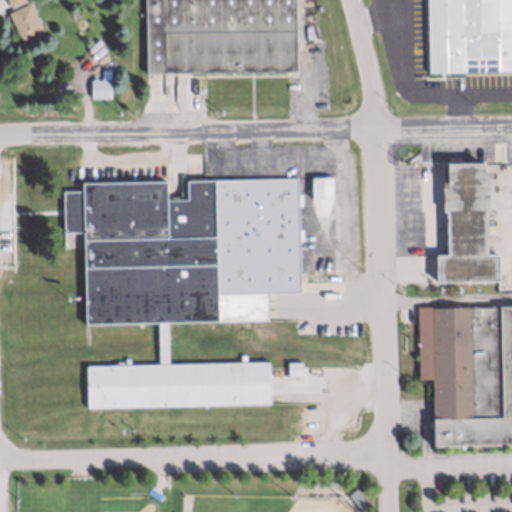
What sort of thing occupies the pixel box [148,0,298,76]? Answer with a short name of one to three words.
building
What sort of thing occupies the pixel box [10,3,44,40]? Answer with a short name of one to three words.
house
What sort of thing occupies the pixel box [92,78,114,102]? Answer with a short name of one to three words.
building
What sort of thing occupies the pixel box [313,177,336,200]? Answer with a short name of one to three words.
shed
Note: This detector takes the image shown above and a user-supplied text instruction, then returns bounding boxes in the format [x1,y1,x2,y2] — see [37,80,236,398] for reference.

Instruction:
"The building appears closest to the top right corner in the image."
[426,0,512,81]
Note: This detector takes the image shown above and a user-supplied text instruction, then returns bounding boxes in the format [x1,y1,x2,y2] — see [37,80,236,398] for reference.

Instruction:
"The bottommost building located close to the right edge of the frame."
[419,306,512,446]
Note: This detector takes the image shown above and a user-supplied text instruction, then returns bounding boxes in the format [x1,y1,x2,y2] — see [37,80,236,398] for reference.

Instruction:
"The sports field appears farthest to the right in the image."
[169,470,377,512]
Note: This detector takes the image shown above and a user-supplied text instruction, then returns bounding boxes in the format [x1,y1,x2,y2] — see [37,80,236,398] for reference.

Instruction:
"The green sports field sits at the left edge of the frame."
[12,472,184,512]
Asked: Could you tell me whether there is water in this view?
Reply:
No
